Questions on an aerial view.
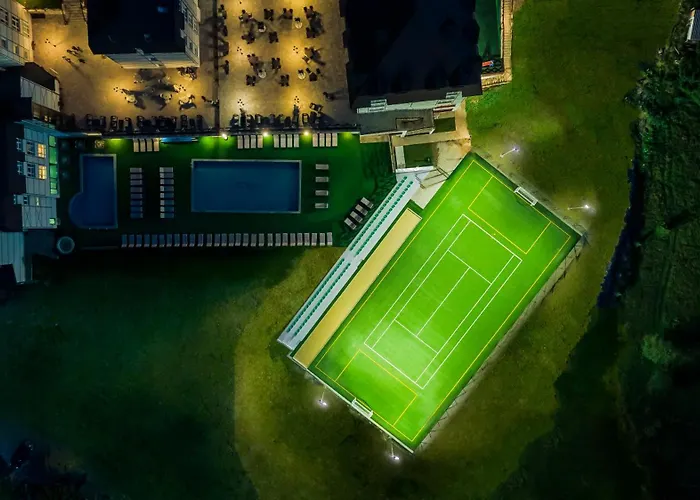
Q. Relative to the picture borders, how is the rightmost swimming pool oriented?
from side to side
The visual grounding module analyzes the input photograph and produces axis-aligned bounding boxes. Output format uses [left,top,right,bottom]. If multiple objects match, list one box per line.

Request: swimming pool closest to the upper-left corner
[68,155,116,228]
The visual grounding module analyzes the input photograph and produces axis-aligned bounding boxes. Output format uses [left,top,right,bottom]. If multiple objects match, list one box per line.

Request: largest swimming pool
[190,159,300,213]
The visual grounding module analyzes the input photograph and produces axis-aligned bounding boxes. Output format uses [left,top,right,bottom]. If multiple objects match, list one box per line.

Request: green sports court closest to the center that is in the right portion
[287,148,584,456]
